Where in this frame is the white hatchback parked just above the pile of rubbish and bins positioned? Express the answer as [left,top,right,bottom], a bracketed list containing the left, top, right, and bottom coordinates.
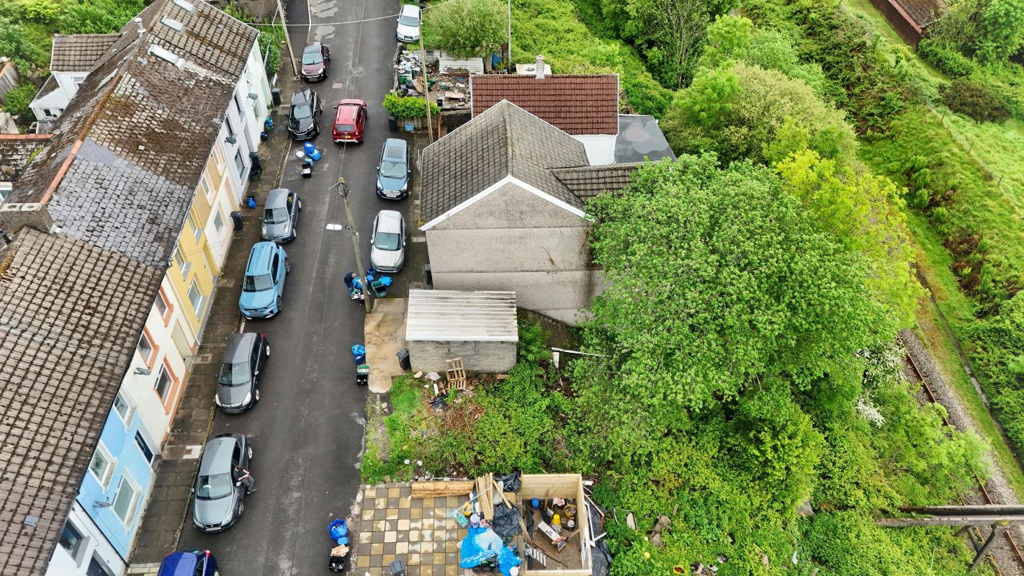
[367,212,407,272]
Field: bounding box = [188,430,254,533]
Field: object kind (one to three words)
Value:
car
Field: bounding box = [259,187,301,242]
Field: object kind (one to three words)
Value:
car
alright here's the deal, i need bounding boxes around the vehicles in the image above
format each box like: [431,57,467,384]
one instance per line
[239,244,290,319]
[188,430,254,533]
[367,212,407,272]
[259,187,301,242]
[214,334,270,414]
[373,136,411,198]
[300,44,332,81]
[333,102,367,145]
[286,87,324,139]
[394,6,420,41]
